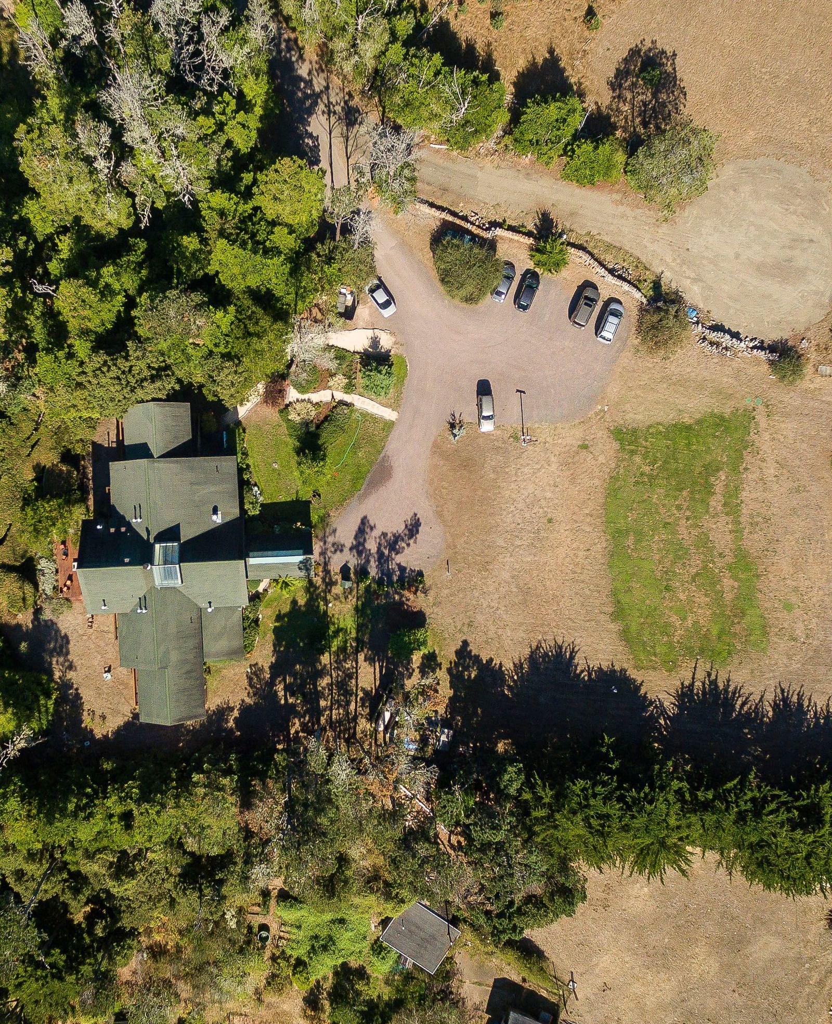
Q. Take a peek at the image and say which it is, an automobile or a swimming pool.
automobile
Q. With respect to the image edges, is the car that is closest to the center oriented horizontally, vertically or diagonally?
vertically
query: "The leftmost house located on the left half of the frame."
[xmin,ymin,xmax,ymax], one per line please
[72,402,315,725]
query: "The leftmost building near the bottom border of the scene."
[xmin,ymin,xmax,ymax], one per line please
[381,897,461,974]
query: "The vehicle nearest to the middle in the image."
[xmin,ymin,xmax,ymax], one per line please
[475,393,496,435]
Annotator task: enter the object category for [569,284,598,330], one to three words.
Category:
car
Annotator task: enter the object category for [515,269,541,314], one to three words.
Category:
car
